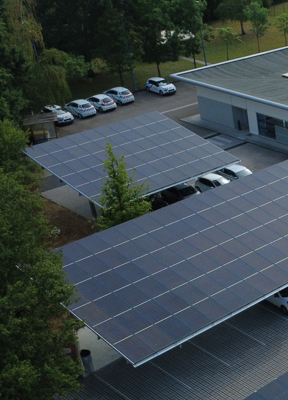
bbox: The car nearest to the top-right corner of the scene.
[145,77,176,96]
